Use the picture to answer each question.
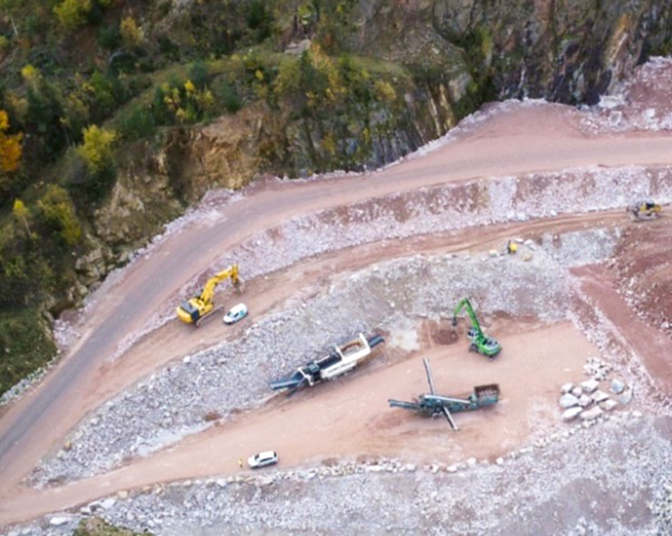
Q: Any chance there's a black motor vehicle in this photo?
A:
No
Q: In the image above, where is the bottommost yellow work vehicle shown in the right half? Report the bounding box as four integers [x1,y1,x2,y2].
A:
[504,239,517,253]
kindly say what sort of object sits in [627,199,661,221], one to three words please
work vehicle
